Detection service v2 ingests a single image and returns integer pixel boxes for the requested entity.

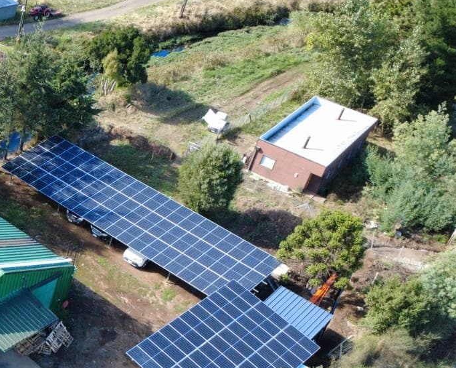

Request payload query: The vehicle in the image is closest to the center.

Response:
[203,110,242,136]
